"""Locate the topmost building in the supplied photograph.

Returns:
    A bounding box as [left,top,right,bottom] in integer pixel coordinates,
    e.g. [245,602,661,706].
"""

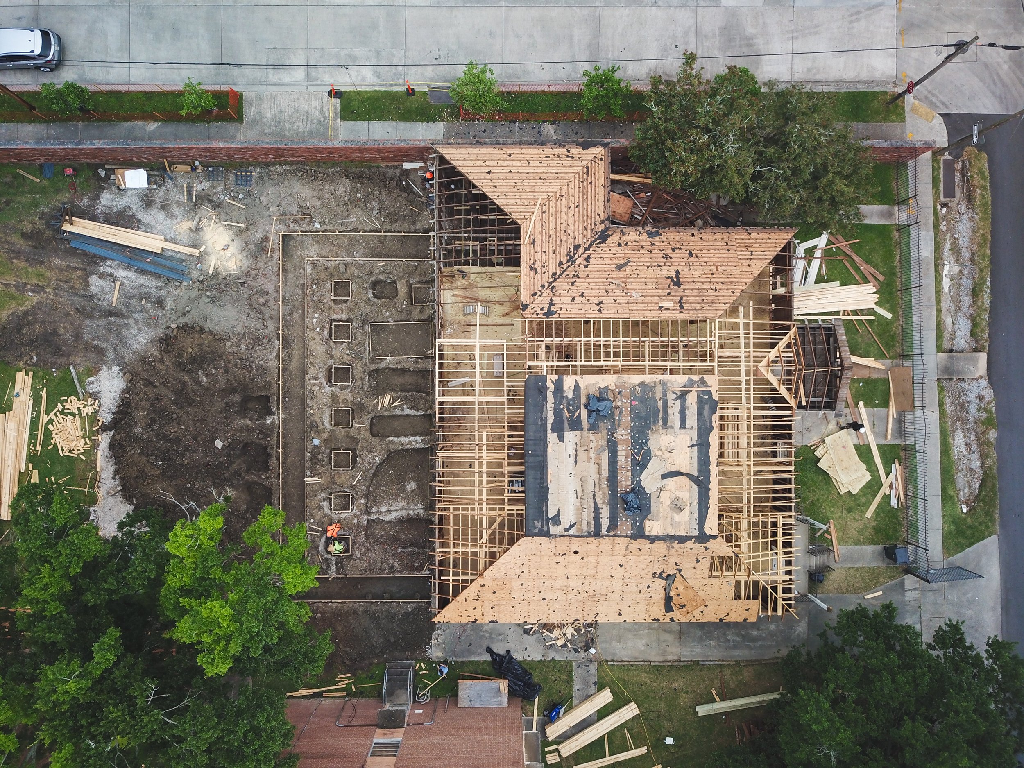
[425,142,853,624]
